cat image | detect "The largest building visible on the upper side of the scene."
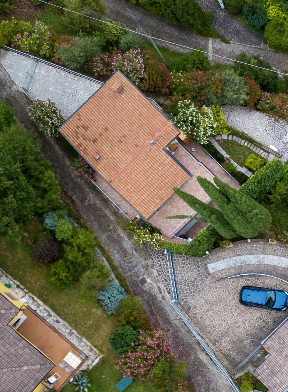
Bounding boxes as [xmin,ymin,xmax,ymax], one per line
[57,69,236,239]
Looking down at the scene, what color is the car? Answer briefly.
blue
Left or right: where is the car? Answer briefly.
right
